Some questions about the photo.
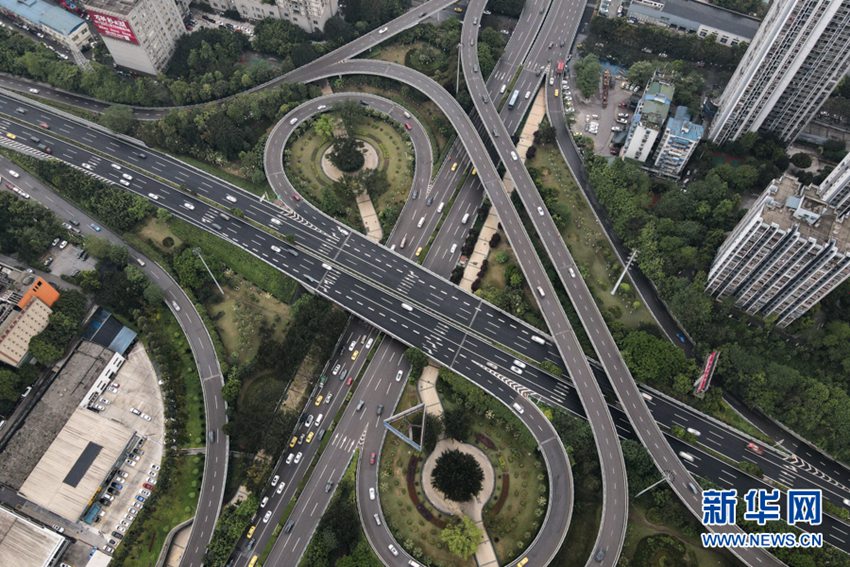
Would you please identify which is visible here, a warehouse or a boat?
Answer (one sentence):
Of the two, only a warehouse appears.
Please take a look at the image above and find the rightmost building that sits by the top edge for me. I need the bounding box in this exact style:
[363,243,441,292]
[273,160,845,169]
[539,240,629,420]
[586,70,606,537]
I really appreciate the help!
[708,0,850,154]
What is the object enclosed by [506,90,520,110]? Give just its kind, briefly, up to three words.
vehicle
